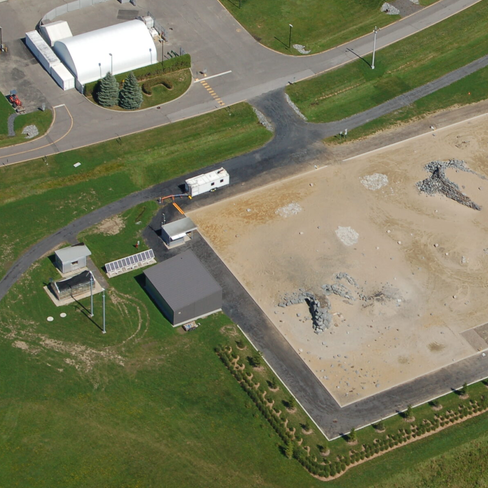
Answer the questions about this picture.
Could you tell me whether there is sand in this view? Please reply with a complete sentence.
Yes, sand shows up in the scene.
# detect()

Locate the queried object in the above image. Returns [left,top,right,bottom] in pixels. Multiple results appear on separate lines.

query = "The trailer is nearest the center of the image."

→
[182,167,229,199]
